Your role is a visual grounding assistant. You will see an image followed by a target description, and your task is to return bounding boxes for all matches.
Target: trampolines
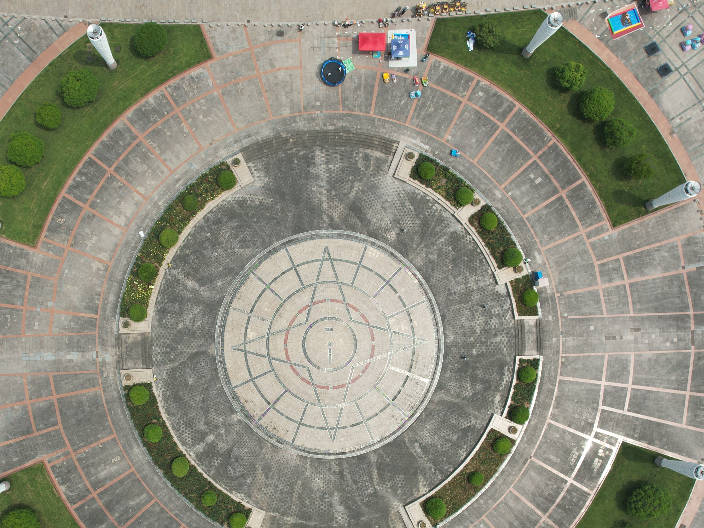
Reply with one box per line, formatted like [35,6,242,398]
[321,56,346,84]
[645,41,661,58]
[658,57,673,79]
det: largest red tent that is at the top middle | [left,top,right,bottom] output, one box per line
[358,32,386,57]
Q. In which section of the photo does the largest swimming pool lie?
top right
